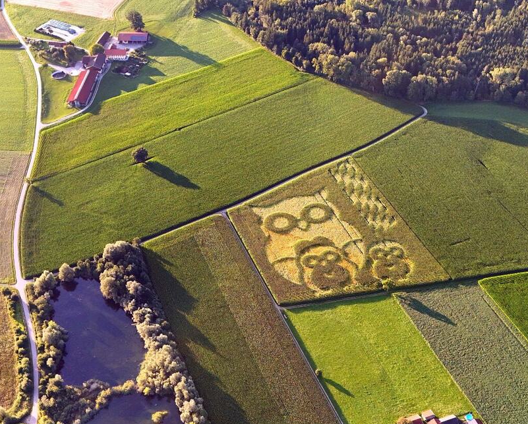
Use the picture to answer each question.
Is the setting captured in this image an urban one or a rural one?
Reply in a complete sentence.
The area shown here is rural.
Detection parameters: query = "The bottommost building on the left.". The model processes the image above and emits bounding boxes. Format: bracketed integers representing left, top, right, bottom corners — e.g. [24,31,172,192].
[66,70,100,107]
